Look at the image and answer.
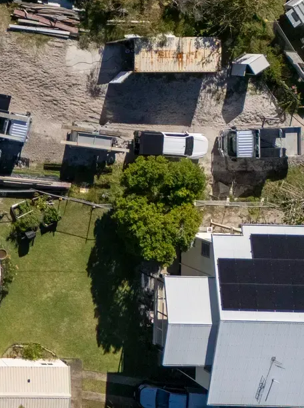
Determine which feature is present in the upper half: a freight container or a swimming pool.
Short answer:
freight container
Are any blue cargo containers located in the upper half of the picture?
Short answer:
No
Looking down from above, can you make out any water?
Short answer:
No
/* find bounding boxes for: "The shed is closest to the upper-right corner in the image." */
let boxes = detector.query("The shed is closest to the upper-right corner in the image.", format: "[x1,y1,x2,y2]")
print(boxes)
[223,54,269,76]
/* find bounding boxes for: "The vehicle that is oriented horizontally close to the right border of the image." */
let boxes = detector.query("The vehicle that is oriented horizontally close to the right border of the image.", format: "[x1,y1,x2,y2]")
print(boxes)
[212,127,304,160]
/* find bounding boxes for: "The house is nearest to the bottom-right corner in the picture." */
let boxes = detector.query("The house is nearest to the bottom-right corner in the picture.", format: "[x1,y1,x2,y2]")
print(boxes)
[152,218,304,408]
